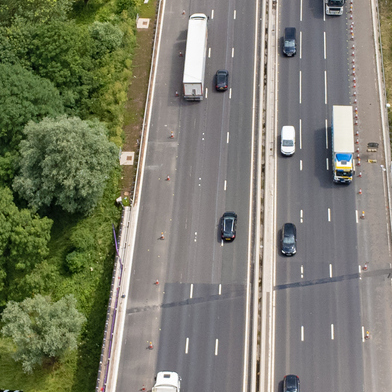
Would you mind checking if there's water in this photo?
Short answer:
No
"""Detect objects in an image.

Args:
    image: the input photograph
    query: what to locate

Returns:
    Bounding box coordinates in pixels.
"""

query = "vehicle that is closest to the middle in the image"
[220,214,238,242]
